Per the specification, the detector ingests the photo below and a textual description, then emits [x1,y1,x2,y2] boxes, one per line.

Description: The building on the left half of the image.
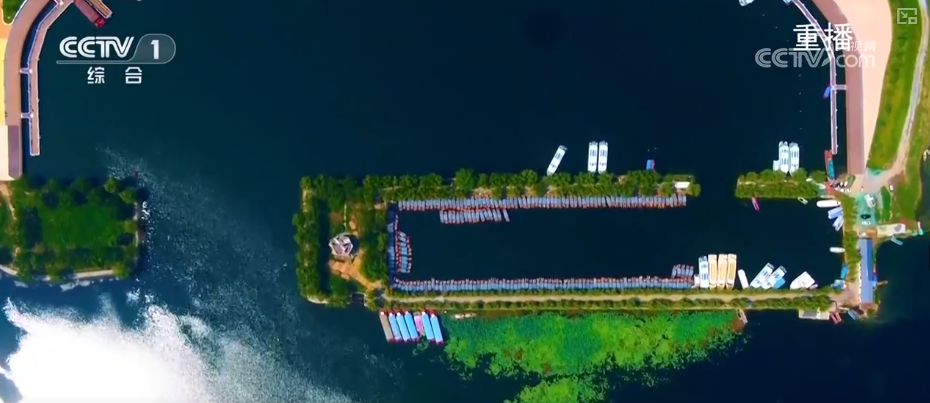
[330,233,354,257]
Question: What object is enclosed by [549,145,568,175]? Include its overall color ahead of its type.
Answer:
white ship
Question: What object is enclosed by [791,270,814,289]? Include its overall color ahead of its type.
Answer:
white boat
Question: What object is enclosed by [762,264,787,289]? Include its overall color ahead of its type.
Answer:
white ship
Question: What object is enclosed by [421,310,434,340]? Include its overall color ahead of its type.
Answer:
blue boat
